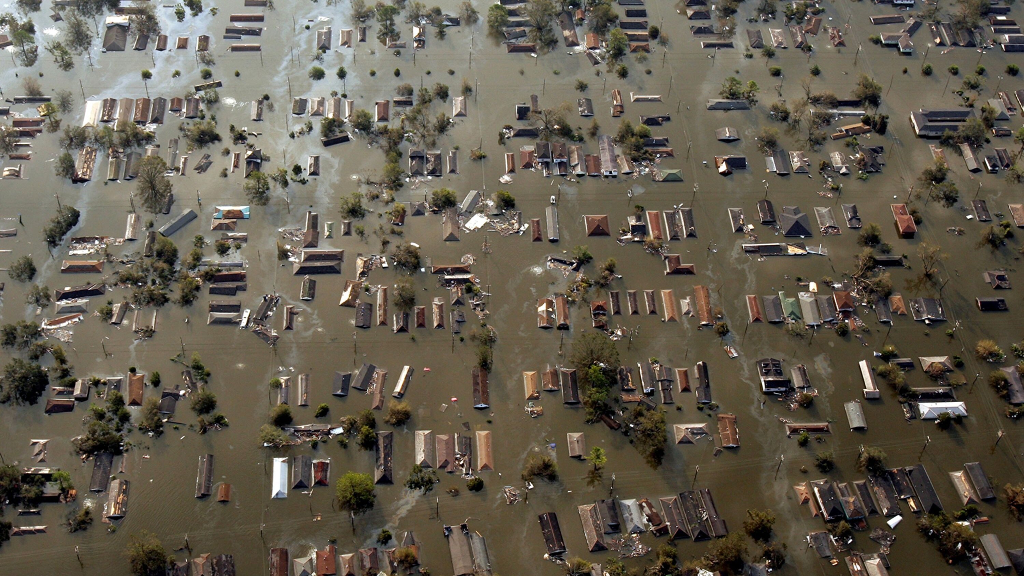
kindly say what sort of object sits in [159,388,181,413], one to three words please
shed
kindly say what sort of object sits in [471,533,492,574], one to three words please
house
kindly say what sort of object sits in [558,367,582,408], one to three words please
house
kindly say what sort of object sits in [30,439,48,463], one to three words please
shed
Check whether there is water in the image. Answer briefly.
Yes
